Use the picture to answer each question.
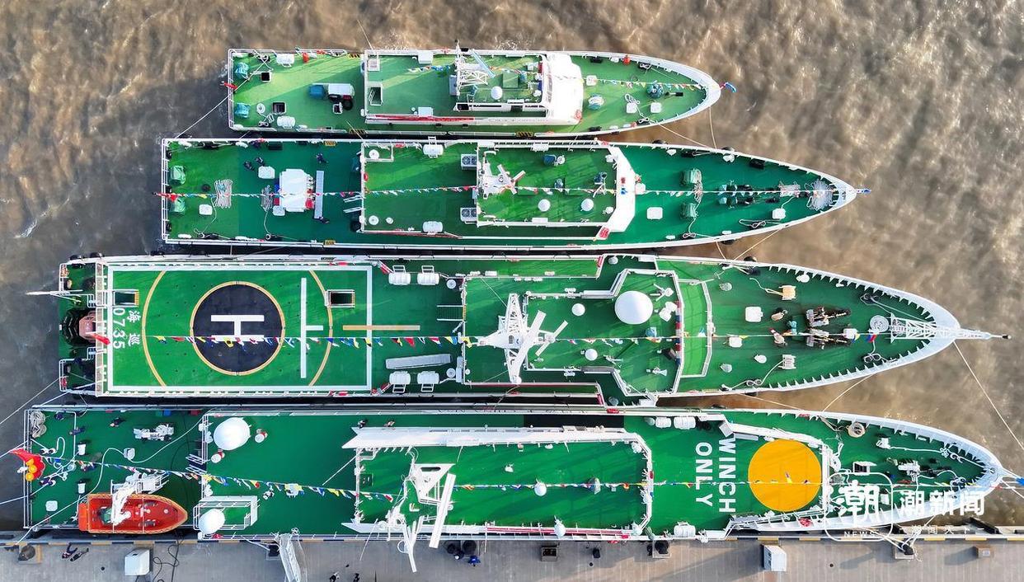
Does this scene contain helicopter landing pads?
Yes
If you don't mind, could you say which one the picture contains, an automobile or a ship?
ship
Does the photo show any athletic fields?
No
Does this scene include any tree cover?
No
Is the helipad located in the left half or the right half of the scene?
left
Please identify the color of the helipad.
green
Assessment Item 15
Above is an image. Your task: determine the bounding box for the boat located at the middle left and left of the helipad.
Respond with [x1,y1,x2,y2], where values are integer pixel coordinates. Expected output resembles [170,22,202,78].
[51,307,94,349]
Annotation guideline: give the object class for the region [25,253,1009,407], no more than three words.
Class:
ship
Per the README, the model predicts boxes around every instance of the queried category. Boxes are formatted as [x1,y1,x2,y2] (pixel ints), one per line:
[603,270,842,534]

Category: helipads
[104,264,373,392]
